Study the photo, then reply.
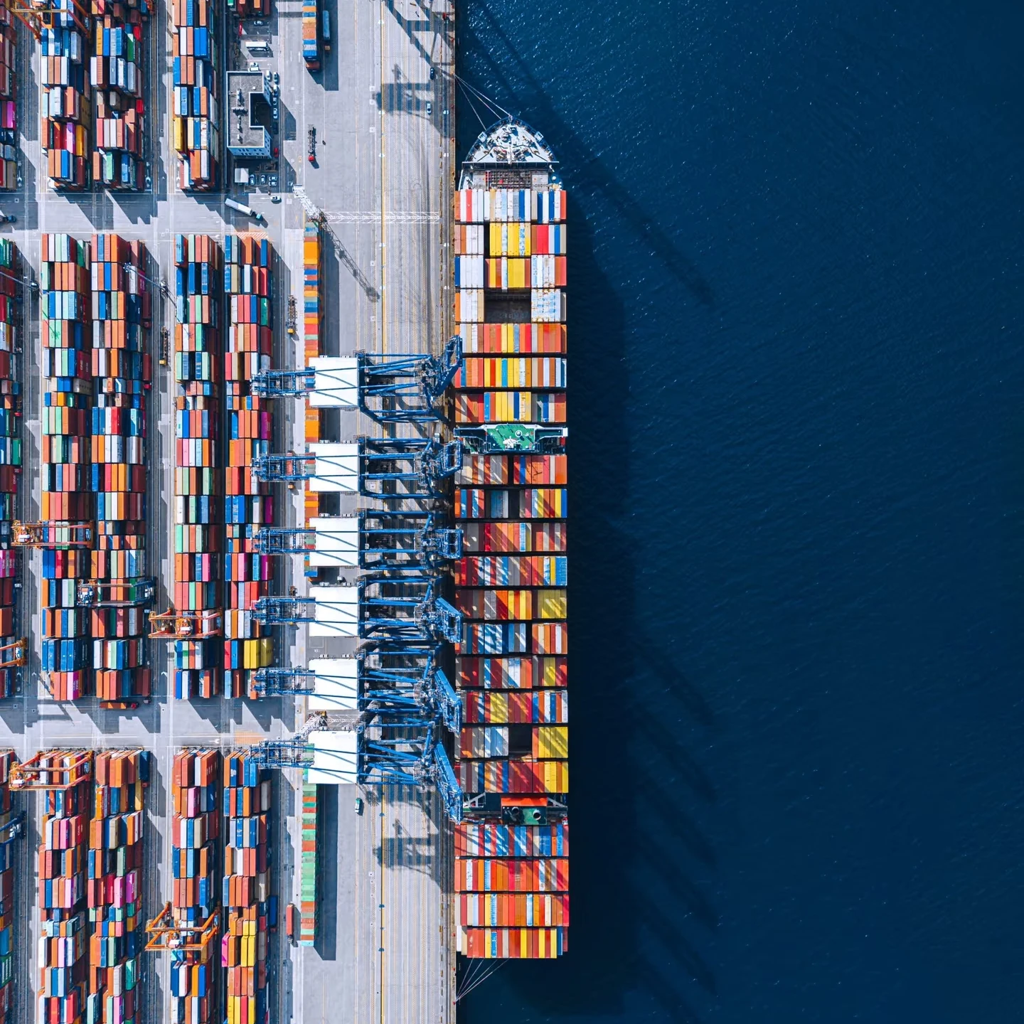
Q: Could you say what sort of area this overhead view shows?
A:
port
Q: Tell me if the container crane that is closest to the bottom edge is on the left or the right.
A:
left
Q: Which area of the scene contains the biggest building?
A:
top left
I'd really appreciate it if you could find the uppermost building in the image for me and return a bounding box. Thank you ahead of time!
[226,71,271,157]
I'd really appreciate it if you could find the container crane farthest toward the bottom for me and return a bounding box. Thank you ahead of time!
[144,897,223,951]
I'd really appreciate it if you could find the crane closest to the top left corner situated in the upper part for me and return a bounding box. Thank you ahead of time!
[8,0,93,55]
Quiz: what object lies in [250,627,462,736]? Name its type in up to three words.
container crane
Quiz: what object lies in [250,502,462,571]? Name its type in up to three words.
container crane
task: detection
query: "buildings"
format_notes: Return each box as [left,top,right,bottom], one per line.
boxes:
[232,167,248,183]
[226,71,271,157]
